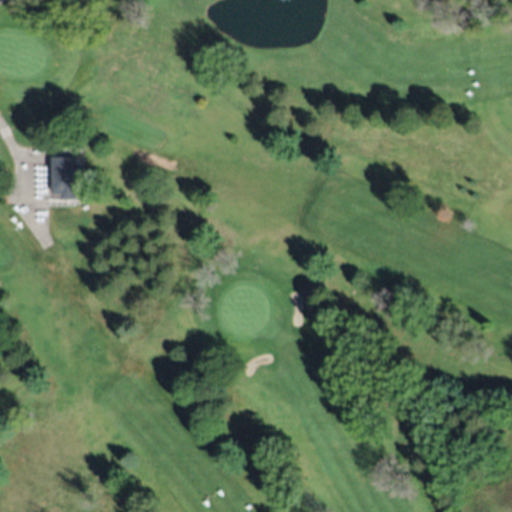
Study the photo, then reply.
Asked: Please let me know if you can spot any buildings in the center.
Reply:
No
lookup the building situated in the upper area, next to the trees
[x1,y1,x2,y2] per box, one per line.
[50,156,80,205]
